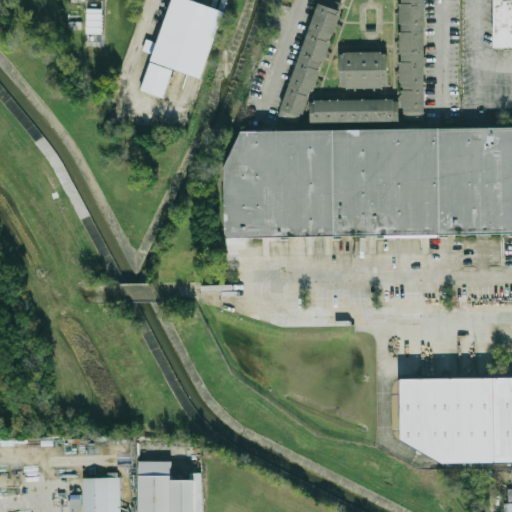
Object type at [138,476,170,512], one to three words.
building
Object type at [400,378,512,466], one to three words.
building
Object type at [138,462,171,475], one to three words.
shed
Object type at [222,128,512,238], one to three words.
warehouse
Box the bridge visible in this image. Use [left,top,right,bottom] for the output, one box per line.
[108,283,158,304]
